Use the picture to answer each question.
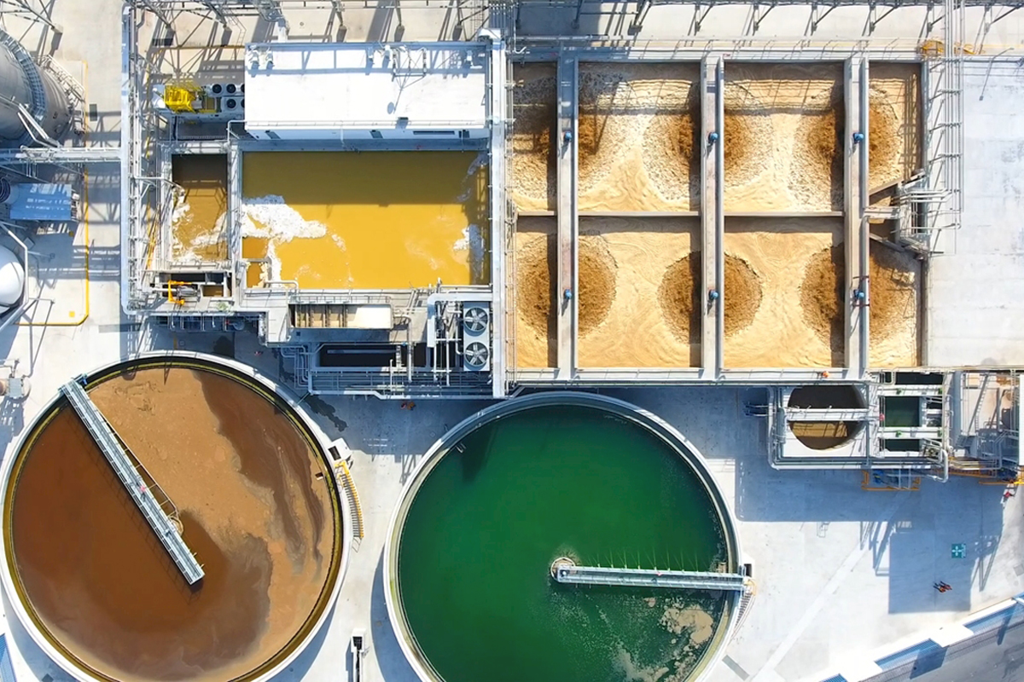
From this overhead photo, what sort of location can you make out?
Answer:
industrial area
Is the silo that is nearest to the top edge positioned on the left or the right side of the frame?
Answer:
left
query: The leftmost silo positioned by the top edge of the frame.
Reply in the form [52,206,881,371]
[0,21,86,149]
